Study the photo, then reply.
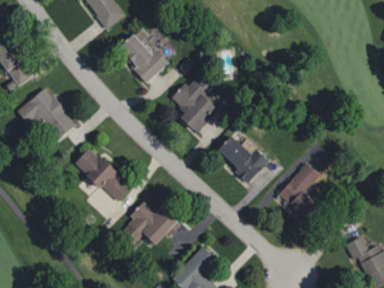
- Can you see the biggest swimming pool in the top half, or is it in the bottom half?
top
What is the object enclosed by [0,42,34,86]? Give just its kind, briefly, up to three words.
house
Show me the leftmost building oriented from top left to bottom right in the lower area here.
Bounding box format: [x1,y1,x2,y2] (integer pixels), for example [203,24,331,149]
[76,150,129,201]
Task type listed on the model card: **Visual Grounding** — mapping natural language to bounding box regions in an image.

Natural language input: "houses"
[124,27,171,83]
[76,150,129,201]
[174,247,218,288]
[124,202,181,245]
[218,138,270,183]
[172,78,219,134]
[16,87,76,140]
[348,236,384,288]
[84,0,126,29]
[0,42,34,86]
[278,162,320,208]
